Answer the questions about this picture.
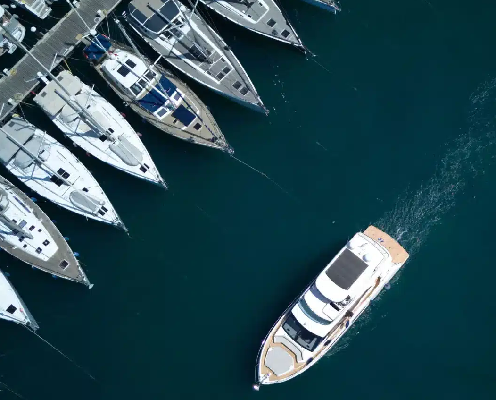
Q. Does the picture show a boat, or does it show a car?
boat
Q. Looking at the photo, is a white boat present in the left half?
Yes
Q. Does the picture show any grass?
No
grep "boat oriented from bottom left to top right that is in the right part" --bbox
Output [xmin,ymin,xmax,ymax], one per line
[254,230,406,388]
